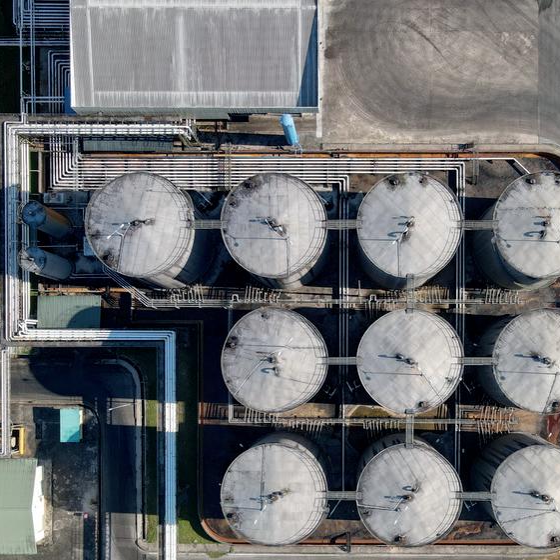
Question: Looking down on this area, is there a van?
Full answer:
No, I can't see a single van in this photo.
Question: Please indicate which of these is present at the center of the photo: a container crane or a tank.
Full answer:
What appears at the center of the photo is a tank.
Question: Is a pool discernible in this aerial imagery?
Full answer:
No, the scene contains no pool.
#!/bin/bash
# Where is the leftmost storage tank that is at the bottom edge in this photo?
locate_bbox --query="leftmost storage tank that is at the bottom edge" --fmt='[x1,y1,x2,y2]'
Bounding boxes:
[220,431,328,549]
